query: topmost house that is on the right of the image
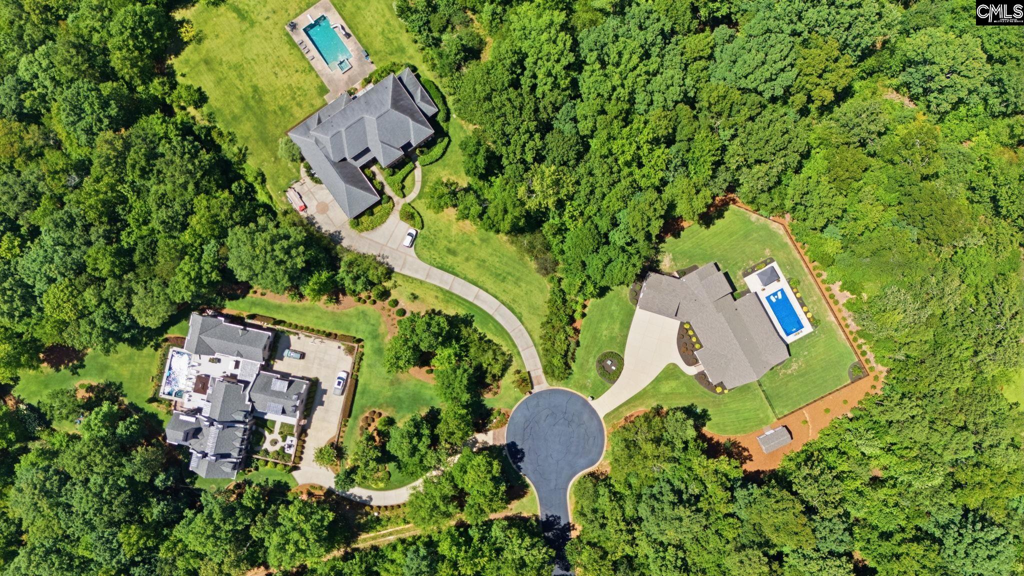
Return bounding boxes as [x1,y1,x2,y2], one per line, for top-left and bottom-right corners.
[636,262,790,389]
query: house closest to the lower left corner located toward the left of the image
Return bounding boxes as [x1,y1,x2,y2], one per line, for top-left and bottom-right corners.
[166,313,314,479]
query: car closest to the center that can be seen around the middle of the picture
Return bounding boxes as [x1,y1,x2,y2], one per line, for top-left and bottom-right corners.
[402,228,417,248]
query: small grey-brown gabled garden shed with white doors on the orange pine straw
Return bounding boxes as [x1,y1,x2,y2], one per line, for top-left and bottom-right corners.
[755,424,793,453]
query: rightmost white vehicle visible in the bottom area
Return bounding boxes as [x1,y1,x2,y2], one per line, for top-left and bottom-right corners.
[332,371,347,397]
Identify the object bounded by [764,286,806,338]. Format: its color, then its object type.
blue swimming pool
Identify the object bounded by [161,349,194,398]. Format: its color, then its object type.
white swimming pool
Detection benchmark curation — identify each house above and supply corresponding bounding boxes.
[636,262,790,389]
[288,67,438,219]
[166,313,314,479]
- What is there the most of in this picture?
trees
